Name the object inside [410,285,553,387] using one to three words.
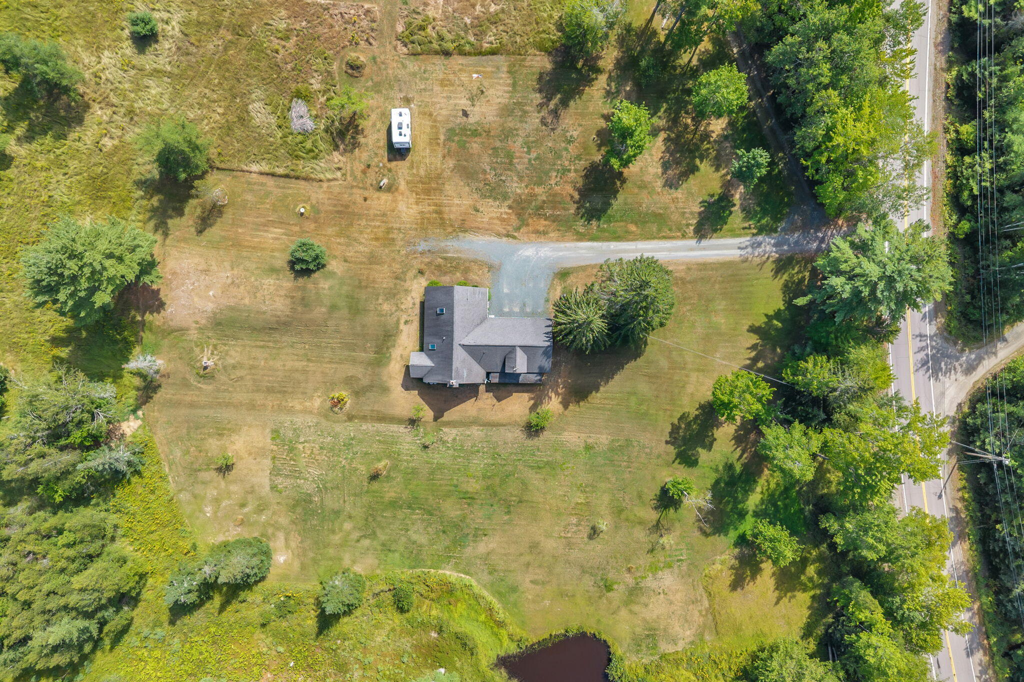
house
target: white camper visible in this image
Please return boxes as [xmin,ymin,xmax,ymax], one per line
[392,109,412,156]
